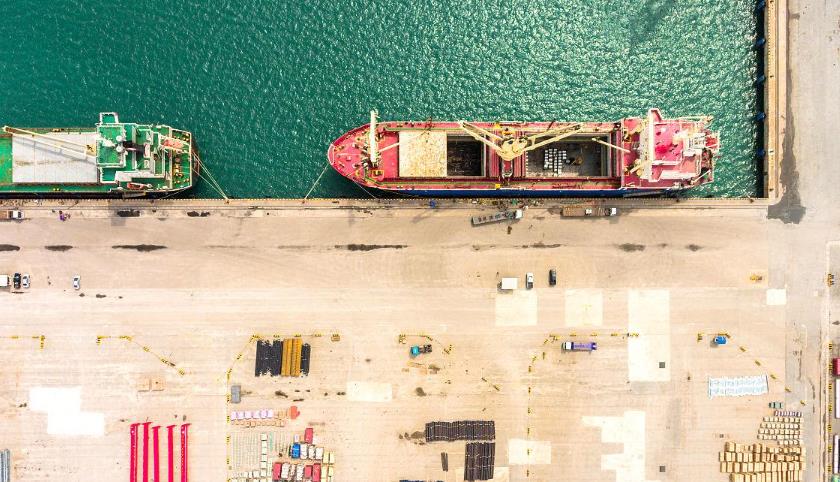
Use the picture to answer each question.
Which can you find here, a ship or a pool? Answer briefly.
ship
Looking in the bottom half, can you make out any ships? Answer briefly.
No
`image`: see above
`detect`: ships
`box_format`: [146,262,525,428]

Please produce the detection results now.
[0,112,199,196]
[328,107,721,194]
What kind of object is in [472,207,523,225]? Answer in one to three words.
vehicle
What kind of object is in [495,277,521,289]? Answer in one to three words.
vehicle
